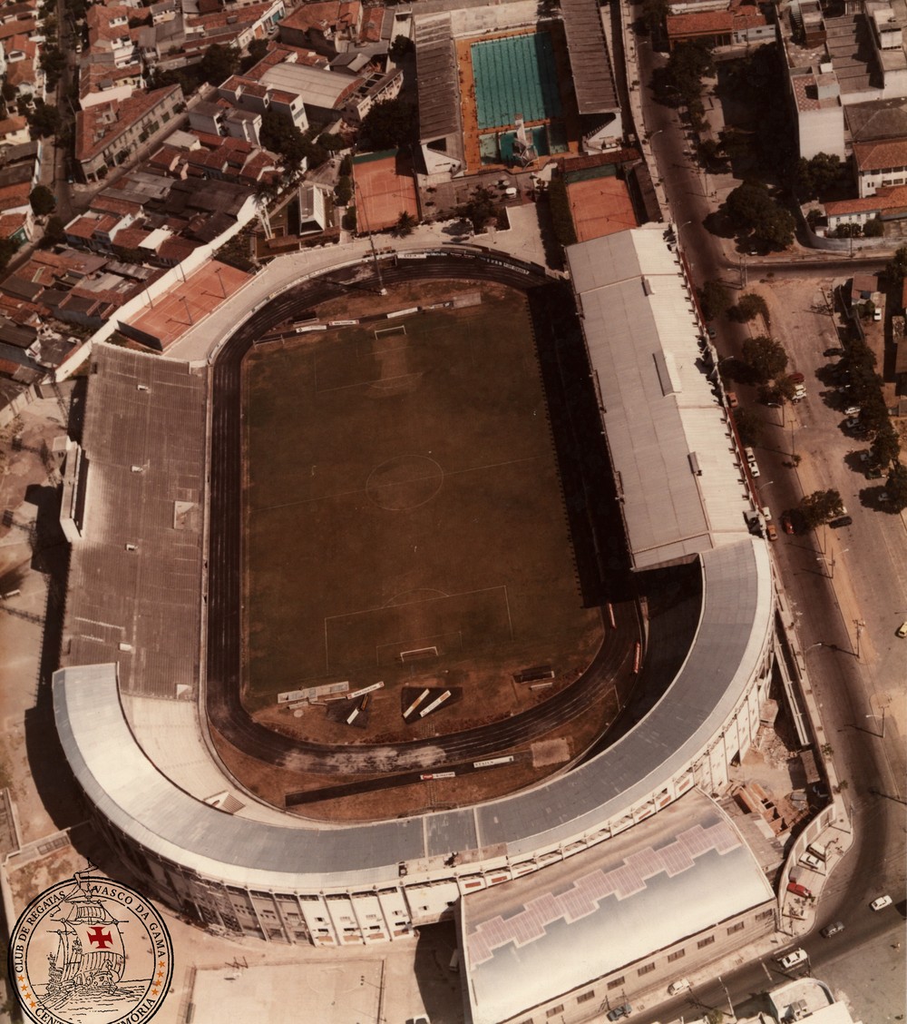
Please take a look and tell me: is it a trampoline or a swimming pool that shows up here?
swimming pool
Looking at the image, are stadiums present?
Yes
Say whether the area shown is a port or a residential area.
residential area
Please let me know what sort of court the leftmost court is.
tennis court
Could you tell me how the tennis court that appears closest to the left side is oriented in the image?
on a diagonal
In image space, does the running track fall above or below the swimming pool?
below it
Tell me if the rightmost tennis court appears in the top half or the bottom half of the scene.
top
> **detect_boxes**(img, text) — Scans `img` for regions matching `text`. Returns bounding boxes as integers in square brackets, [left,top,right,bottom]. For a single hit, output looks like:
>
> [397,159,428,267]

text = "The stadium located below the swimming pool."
[46,217,784,944]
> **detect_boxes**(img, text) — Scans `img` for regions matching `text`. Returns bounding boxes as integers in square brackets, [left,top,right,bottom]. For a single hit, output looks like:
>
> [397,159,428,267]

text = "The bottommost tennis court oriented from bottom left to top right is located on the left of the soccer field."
[129,261,253,348]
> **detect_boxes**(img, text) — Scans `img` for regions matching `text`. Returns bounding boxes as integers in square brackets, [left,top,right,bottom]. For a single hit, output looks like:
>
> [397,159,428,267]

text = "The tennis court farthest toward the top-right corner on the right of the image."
[568,177,636,240]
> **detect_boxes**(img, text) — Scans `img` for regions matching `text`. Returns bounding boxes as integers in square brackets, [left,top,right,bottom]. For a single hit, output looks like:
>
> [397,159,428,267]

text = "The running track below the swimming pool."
[209,248,625,778]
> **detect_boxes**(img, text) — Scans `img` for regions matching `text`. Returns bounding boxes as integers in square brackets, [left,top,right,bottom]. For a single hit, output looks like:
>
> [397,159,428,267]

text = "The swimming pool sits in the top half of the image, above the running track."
[453,19,587,169]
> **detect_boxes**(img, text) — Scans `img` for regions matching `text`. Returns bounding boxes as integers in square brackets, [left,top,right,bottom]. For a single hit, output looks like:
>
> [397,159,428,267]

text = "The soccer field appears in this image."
[243,268,590,747]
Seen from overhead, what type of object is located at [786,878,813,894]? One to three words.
vehicle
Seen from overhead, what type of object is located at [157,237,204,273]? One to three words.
house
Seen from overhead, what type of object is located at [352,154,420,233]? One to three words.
tennis court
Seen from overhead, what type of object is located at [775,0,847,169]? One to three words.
building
